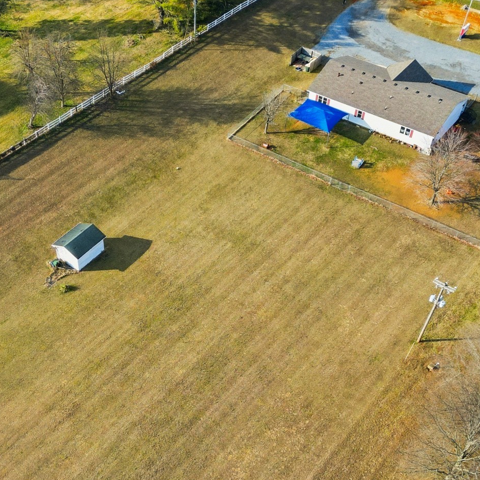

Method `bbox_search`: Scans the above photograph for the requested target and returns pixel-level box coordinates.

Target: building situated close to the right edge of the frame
[306,55,475,154]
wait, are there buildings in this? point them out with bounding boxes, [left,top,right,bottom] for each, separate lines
[306,55,475,154]
[52,224,106,270]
